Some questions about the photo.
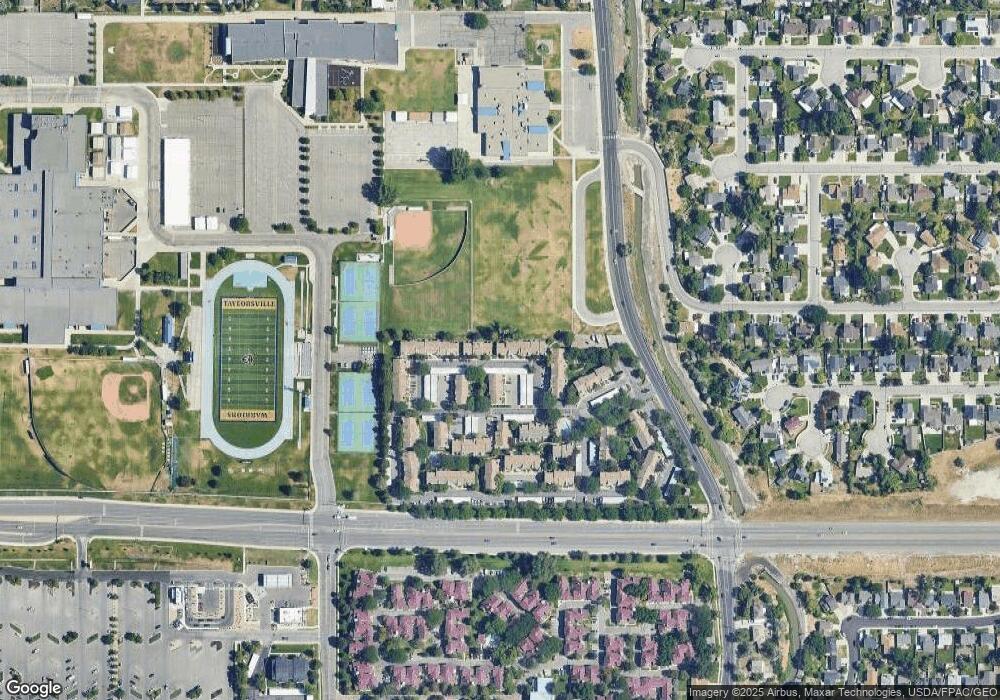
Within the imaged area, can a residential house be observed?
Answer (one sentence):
Yes, I can see a residential house in this picture.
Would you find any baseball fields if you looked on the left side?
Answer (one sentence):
Yes, a baseball field appears on the left side.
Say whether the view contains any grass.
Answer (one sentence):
Yes, grass shows up in the scene.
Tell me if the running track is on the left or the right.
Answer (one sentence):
The running track appears in the left half of the scene.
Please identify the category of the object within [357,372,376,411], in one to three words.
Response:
tennis court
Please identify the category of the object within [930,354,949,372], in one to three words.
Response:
house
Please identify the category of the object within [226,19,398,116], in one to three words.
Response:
building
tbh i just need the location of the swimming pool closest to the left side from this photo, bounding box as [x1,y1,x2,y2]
[429,452,444,468]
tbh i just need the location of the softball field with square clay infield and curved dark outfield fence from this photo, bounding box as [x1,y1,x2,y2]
[392,210,466,284]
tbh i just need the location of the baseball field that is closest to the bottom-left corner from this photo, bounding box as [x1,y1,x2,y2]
[103,372,153,421]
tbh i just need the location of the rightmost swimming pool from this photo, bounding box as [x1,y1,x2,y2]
[557,418,573,440]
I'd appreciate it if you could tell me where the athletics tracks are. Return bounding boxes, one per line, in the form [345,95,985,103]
[202,261,296,459]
